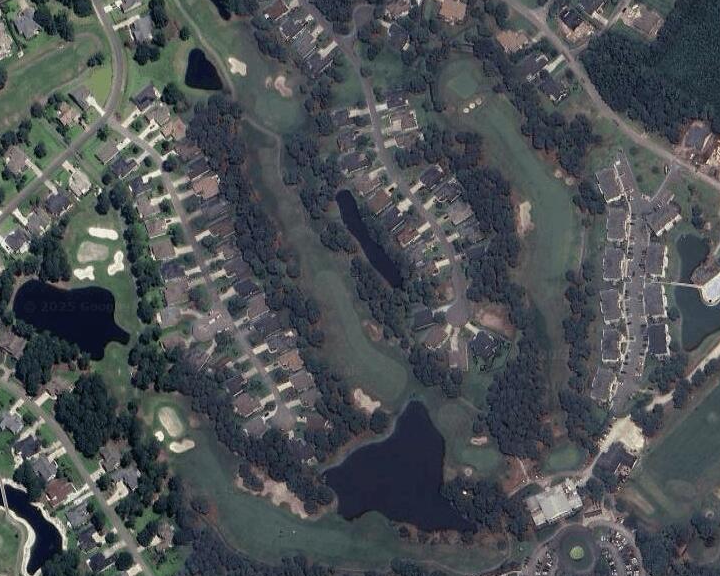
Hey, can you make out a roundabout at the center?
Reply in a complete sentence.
No, looking at the center, there is no roundabout.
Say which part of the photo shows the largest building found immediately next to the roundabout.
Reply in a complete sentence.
Look in the bottom right portion of the view to spot the largest building found immediately next to the roundabout.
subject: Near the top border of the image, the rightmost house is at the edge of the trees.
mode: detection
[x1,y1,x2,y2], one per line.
[625,7,658,39]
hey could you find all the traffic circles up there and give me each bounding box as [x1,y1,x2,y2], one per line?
[554,528,601,575]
